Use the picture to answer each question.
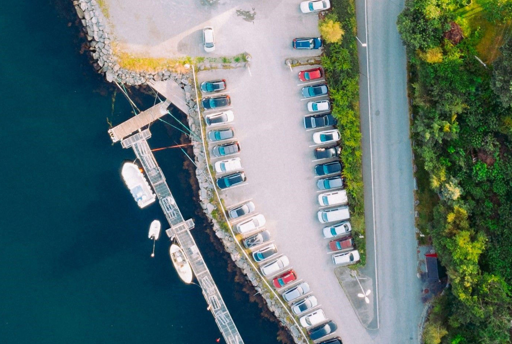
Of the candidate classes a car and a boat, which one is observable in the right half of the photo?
car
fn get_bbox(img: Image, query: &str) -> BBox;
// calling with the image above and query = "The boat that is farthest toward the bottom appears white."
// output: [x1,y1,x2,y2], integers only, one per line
[171,244,191,283]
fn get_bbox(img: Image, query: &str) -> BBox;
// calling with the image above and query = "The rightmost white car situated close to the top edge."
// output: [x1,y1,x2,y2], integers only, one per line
[300,0,331,13]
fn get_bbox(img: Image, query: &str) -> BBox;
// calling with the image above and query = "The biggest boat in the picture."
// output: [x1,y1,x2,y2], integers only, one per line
[122,161,155,210]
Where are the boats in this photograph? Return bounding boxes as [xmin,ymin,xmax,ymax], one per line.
[171,244,191,283]
[149,220,160,241]
[122,161,155,210]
